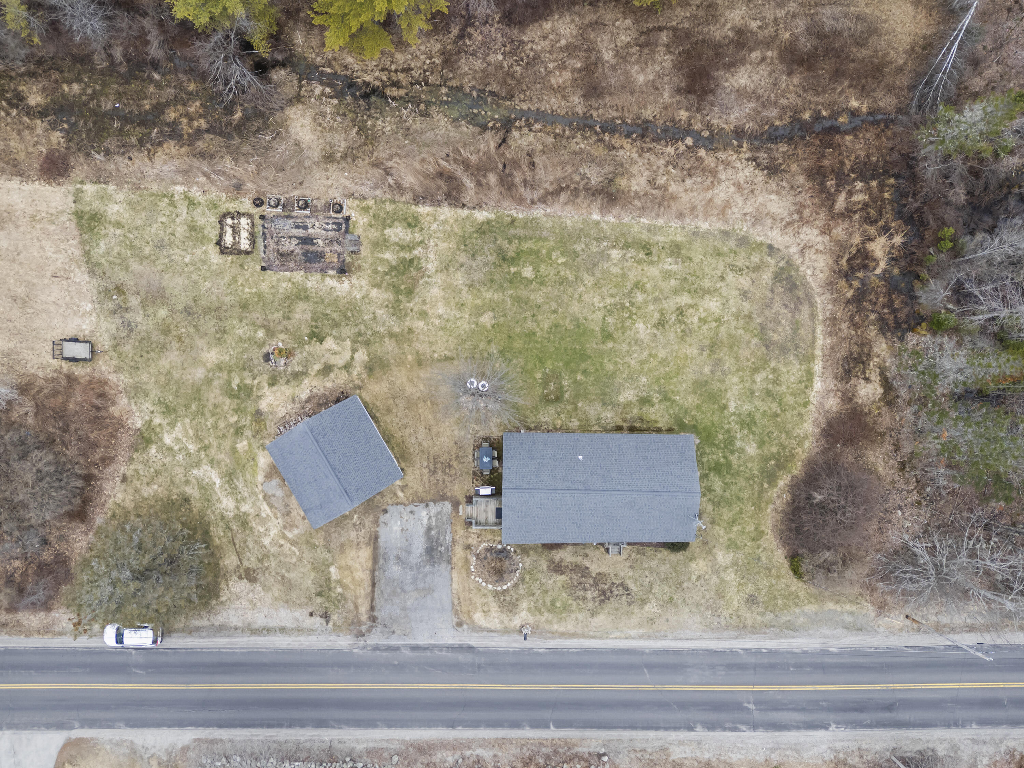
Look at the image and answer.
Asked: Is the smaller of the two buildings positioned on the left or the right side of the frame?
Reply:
left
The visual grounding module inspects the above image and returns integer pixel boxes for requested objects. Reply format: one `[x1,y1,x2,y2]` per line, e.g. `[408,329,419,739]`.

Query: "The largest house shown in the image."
[502,430,701,543]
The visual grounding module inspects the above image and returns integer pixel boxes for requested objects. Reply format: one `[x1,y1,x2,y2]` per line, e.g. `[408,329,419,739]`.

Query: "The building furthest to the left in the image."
[267,394,406,527]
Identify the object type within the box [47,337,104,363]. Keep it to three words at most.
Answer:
trailer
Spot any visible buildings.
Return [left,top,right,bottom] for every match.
[267,394,406,527]
[502,430,701,543]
